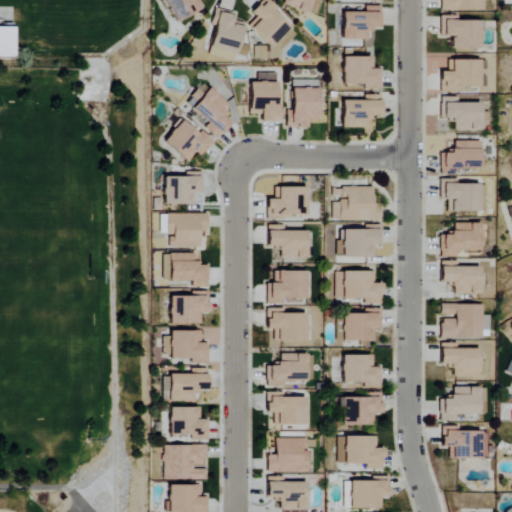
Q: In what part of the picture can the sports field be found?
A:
left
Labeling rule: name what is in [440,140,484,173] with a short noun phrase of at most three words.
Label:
house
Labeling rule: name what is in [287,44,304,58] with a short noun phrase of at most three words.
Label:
swimming pool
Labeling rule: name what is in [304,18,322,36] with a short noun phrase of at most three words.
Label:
swimming pool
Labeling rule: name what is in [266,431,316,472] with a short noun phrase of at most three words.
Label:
house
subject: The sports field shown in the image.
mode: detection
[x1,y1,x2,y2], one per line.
[0,69,110,484]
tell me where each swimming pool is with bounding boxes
[304,18,322,36]
[156,168,166,182]
[500,462,512,474]
[159,36,180,49]
[153,485,164,508]
[332,486,342,502]
[233,69,250,80]
[165,78,186,92]
[484,28,494,44]
[466,470,490,482]
[500,500,512,512]
[311,488,322,508]
[326,322,336,345]
[156,102,166,121]
[287,44,304,58]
